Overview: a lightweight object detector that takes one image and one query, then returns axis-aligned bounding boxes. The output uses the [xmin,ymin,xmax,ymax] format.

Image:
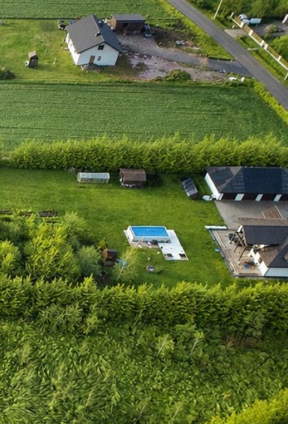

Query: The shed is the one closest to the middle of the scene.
[117,168,151,187]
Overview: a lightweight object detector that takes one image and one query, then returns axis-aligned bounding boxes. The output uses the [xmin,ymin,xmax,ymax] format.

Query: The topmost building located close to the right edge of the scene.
[196,168,288,202]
